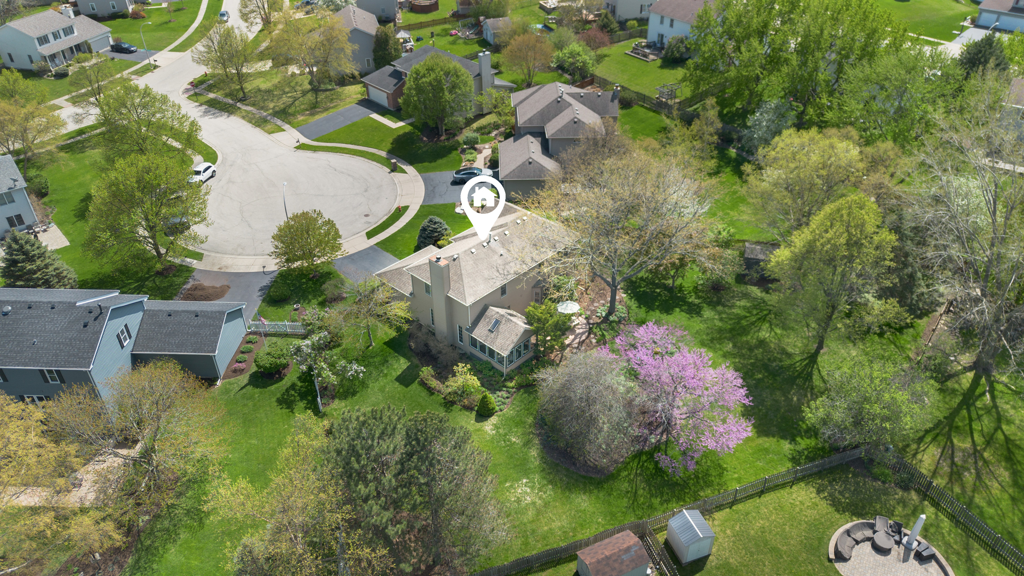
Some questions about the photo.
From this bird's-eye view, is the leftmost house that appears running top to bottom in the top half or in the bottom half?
top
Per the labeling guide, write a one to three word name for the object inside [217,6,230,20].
vehicle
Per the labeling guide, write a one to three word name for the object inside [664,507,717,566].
shed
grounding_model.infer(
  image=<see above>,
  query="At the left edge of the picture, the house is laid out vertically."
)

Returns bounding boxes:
[0,152,40,234]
